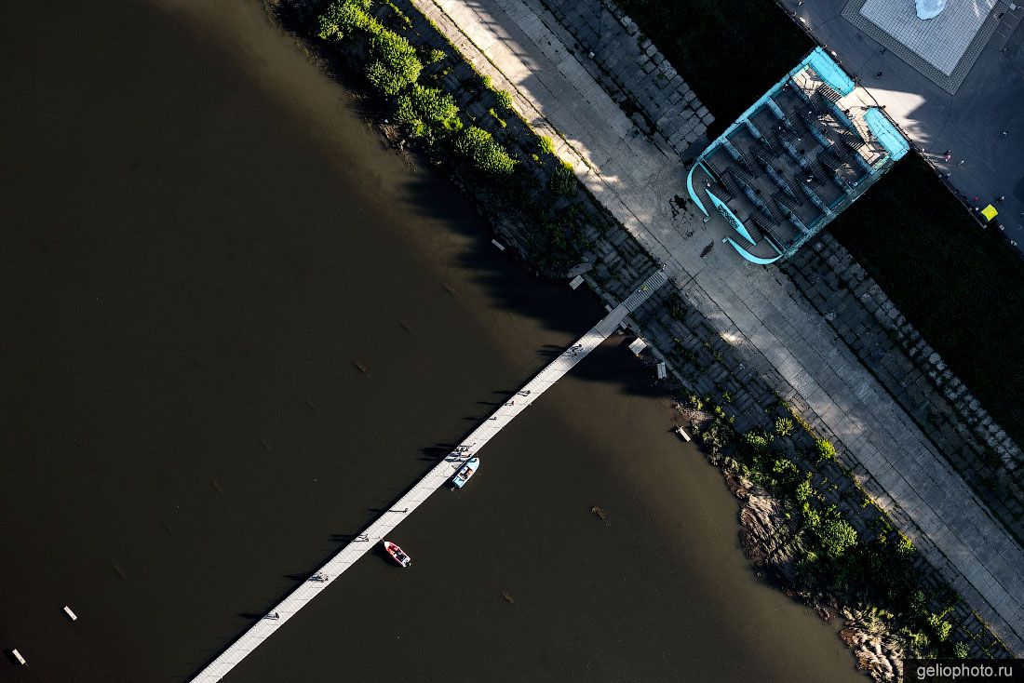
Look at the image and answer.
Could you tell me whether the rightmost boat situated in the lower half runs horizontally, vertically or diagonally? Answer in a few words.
diagonally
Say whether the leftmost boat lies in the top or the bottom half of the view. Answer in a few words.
bottom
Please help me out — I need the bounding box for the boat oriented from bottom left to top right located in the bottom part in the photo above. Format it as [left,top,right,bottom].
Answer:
[451,458,479,490]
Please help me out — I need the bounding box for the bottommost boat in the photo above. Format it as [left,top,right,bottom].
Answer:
[384,542,411,568]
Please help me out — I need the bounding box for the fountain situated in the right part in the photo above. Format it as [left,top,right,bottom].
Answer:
[833,0,1024,103]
